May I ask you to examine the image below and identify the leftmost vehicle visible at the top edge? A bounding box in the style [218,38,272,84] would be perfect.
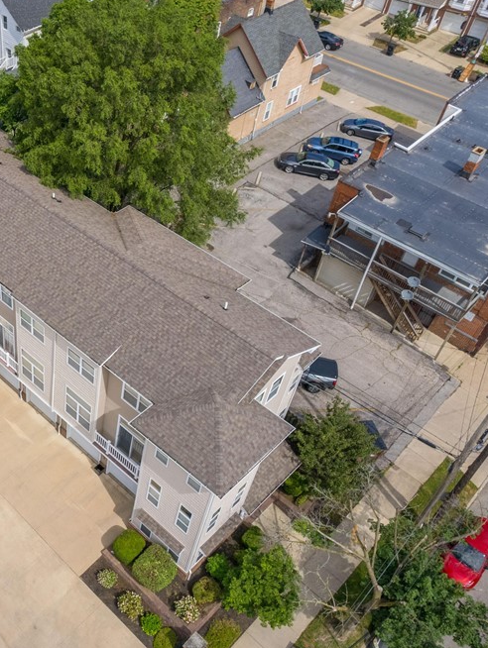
[317,26,345,48]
